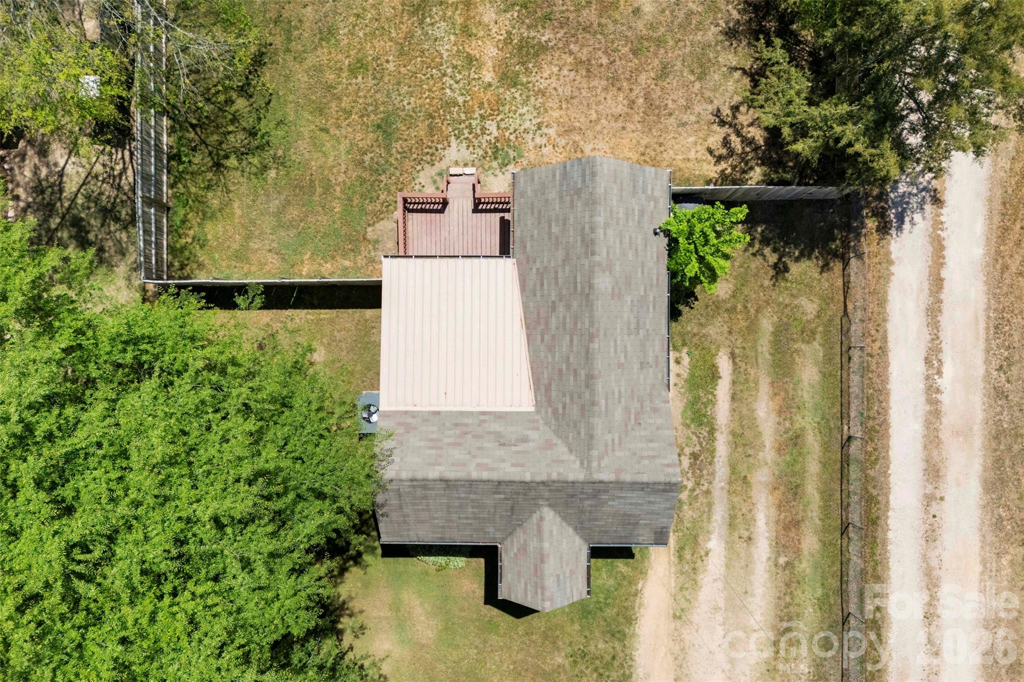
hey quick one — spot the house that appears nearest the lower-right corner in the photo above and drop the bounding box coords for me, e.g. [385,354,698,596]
[370,157,681,612]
